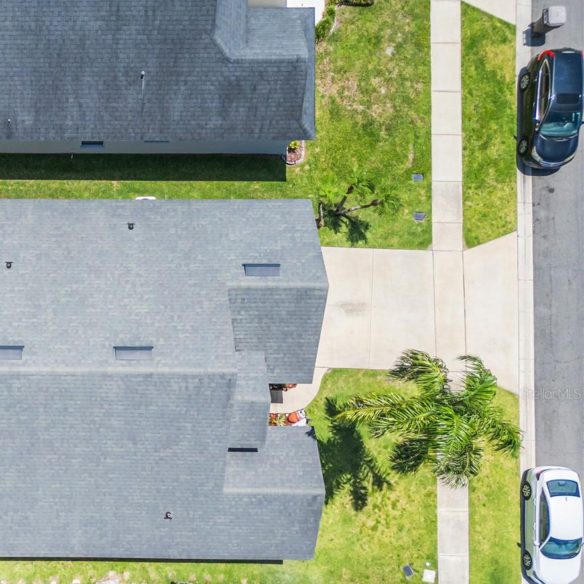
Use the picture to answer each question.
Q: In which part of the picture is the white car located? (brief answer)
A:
bottom right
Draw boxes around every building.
[0,0,317,154]
[0,198,332,559]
